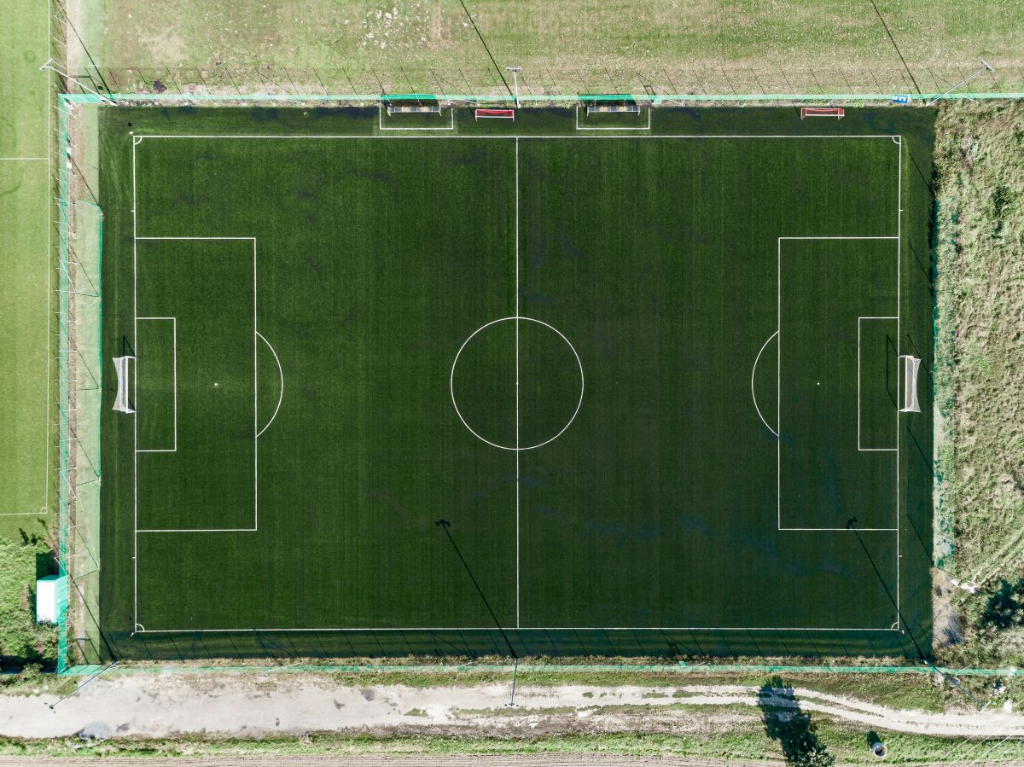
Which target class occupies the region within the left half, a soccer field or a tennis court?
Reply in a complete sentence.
Looking within the left half, you will find a soccer field.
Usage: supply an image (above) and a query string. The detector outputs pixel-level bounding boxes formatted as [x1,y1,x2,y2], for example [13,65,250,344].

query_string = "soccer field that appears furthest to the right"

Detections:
[99,107,934,657]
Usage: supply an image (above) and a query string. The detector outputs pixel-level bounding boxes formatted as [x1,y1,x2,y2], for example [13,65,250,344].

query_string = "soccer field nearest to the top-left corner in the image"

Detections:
[0,0,53,529]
